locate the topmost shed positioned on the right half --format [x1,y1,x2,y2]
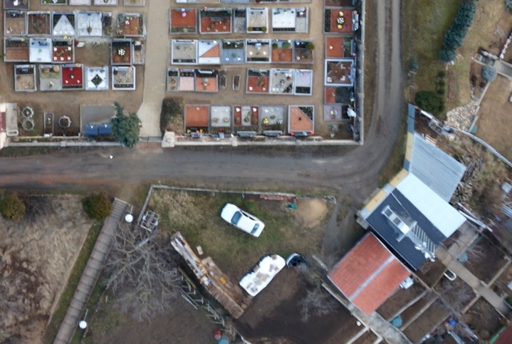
[406,131,466,202]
